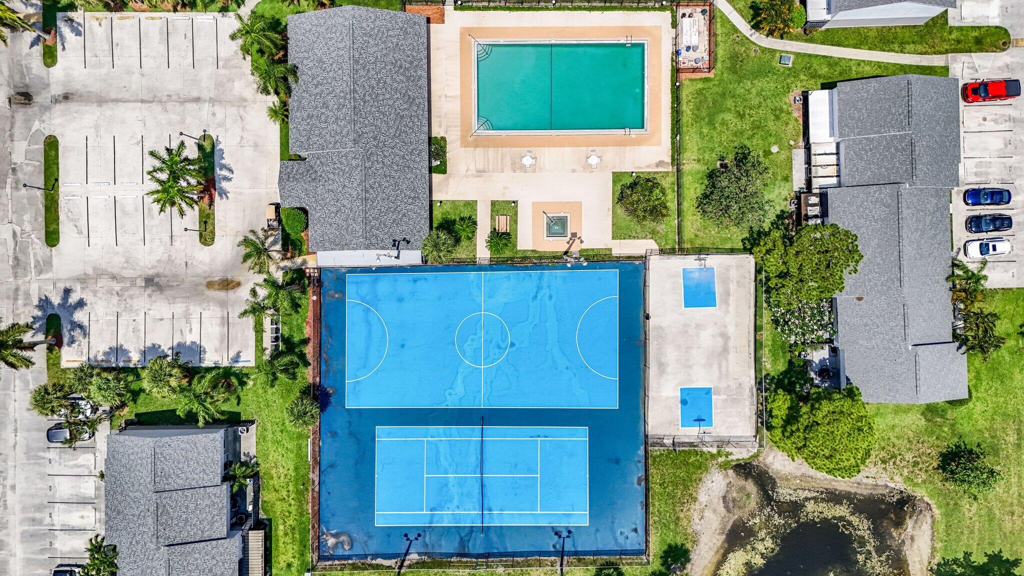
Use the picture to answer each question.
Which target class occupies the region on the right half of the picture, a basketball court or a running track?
basketball court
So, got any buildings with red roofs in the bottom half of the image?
No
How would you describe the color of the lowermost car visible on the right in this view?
white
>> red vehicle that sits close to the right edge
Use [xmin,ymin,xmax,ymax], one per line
[960,80,1020,104]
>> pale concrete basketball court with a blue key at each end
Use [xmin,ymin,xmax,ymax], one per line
[647,254,757,444]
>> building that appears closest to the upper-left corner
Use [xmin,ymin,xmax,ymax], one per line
[278,7,431,266]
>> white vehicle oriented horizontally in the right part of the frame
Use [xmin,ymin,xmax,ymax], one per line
[962,238,1011,259]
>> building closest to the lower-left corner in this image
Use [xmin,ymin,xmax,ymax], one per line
[104,424,249,576]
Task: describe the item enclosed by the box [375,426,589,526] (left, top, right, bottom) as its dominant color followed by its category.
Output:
blue tennis court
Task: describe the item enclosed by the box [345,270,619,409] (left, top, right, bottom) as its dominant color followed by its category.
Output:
blue sports court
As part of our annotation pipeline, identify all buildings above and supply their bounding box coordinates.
[278,7,431,266]
[822,0,956,27]
[816,75,968,404]
[104,424,249,576]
